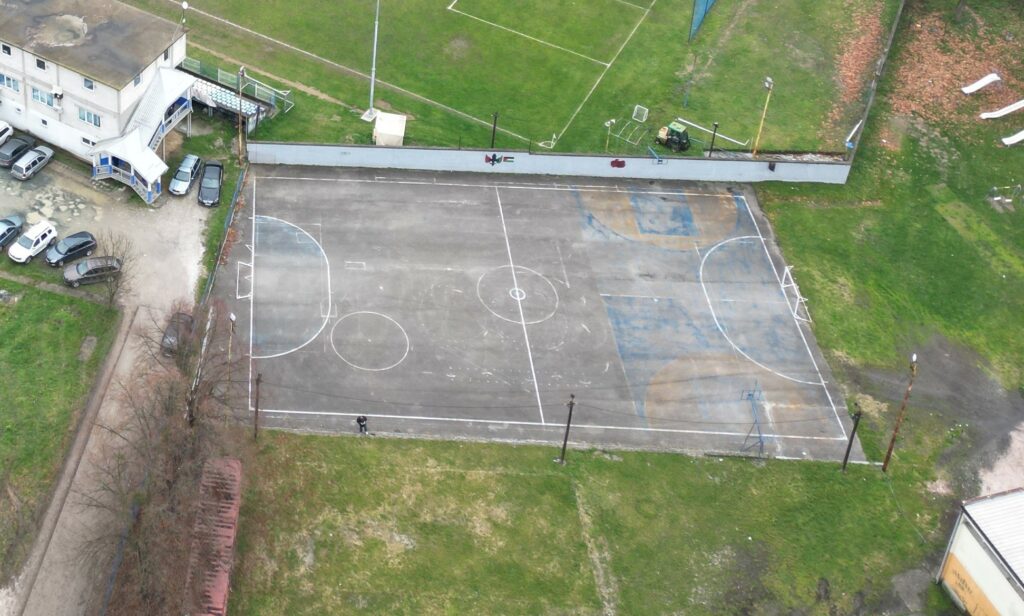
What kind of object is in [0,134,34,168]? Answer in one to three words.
car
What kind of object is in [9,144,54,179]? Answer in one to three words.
car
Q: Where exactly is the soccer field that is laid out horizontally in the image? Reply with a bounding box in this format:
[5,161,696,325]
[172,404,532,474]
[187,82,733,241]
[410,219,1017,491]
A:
[144,0,665,150]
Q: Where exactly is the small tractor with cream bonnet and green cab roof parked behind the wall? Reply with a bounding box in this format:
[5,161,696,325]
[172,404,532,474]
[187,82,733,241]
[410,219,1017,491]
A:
[654,118,701,153]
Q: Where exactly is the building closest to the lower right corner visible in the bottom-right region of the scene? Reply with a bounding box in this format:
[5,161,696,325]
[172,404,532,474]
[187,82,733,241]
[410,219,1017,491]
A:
[931,480,1024,616]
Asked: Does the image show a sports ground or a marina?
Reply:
sports ground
